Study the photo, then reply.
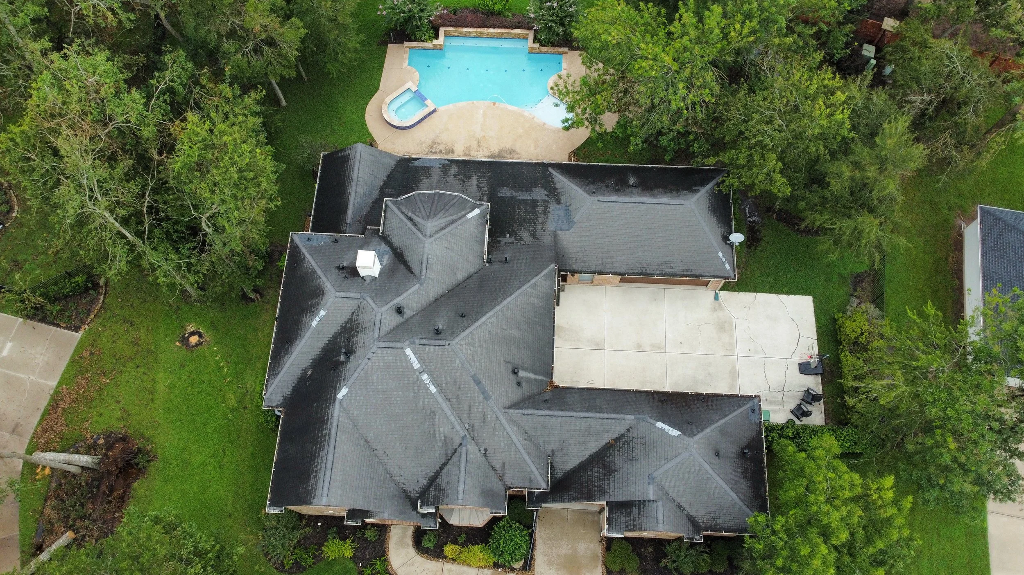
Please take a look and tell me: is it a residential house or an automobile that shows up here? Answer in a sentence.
Looking from above, you can make out a residential house.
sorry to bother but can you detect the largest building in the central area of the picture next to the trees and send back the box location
[261,141,774,545]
